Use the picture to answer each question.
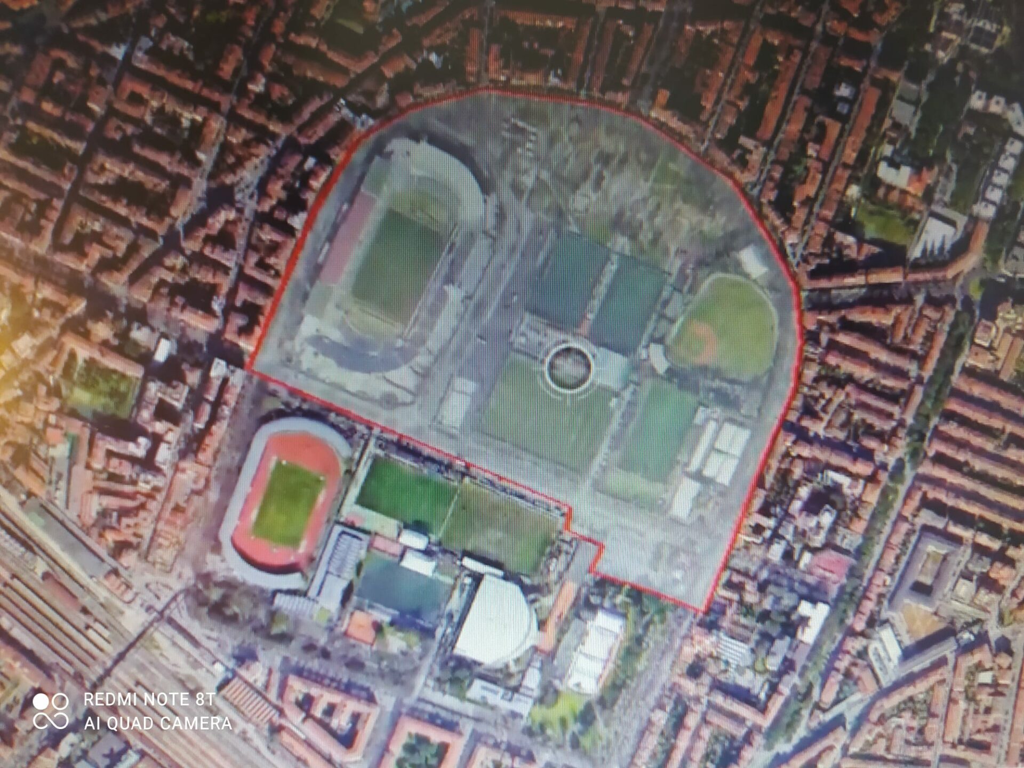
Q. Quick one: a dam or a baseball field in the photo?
baseball field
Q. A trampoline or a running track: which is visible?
running track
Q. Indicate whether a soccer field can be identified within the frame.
Yes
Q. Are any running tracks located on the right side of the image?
No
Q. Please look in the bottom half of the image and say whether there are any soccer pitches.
Yes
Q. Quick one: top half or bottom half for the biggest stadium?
top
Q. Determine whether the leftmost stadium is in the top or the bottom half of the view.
bottom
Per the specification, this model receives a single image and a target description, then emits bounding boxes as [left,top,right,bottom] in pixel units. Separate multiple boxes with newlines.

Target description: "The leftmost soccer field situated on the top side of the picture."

[351,209,448,324]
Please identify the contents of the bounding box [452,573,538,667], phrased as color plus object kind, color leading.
white stadium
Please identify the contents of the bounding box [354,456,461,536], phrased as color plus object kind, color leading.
green soccer field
